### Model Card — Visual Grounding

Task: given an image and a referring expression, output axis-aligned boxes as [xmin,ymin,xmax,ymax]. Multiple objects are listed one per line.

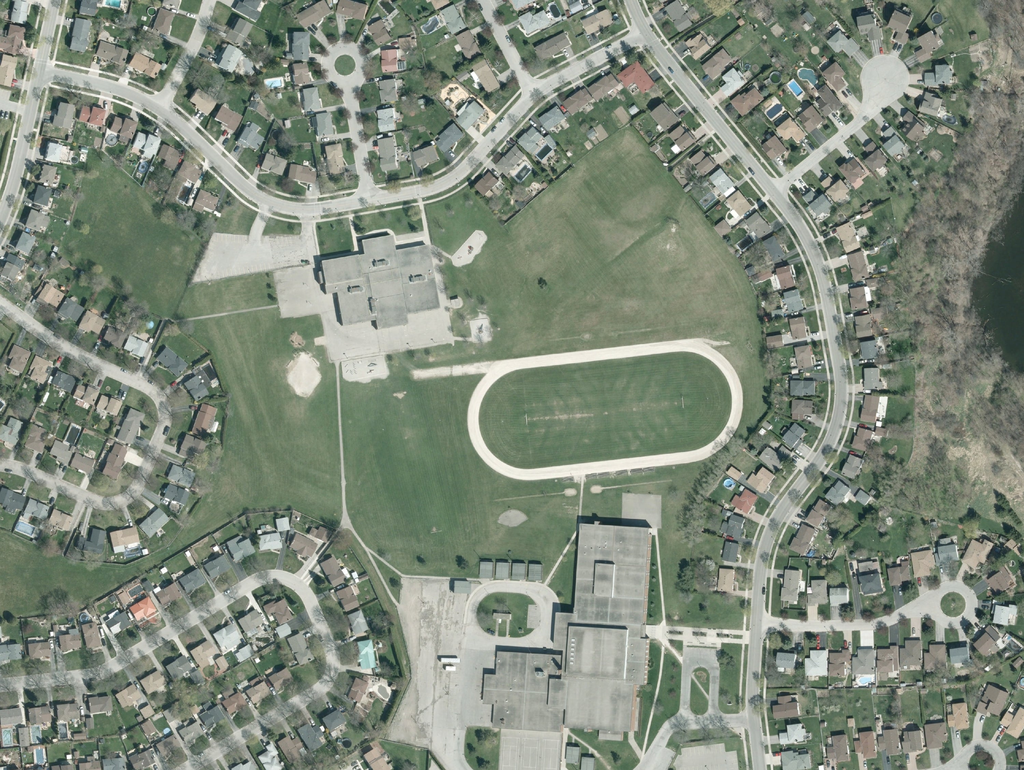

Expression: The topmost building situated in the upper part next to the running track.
[318,235,439,329]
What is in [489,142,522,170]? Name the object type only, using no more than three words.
house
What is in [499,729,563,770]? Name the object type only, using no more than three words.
tennis court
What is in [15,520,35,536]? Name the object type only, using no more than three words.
swimming pool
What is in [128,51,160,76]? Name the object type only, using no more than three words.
house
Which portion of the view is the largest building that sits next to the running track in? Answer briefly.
bottom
